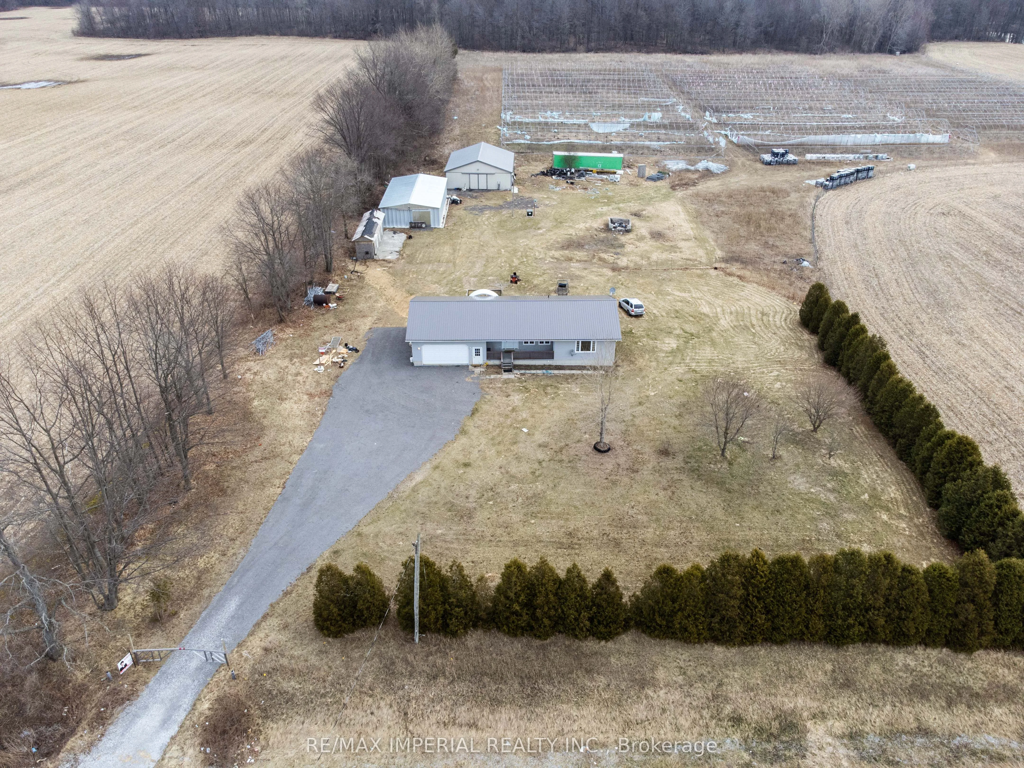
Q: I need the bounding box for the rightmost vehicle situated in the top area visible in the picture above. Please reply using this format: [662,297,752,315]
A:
[619,294,647,314]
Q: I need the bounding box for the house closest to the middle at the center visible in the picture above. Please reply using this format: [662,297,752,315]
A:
[405,292,622,374]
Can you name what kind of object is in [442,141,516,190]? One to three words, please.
barn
